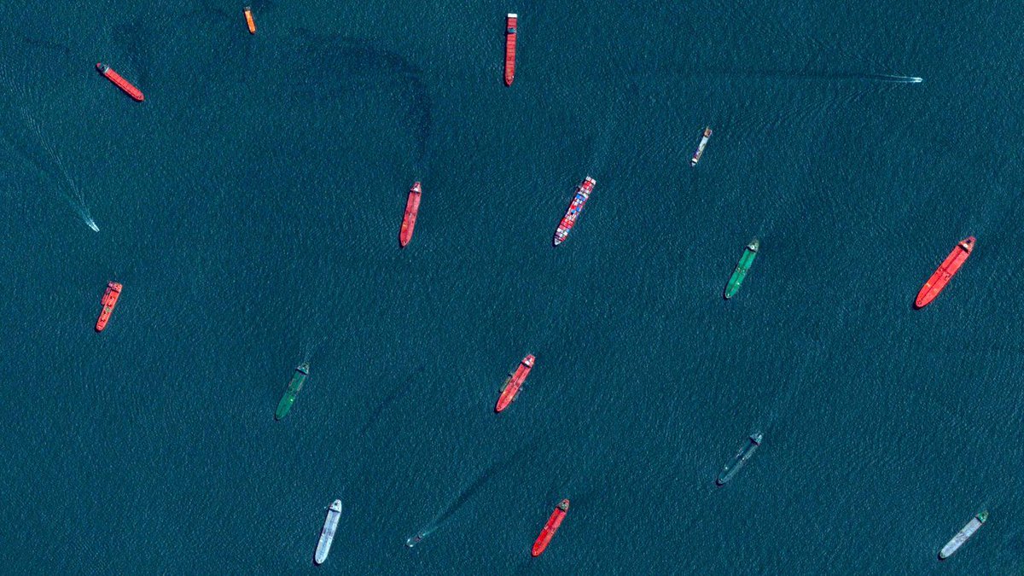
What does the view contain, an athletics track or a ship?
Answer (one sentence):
I can see a ship in this picture.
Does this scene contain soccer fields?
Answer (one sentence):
No, the scene contains no soccer field.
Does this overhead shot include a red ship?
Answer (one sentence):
Yes, a red ship appears in the view.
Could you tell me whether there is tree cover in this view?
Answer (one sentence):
No, tree cover can't be seen anywhere here.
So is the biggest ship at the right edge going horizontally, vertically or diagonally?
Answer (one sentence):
From this overhead view, the biggest ship at the right edge appears to run diagonally.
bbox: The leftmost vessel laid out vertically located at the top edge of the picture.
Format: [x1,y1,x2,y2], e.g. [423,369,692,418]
[244,6,256,34]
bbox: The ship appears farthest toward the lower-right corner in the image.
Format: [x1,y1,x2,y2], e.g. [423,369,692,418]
[941,510,988,558]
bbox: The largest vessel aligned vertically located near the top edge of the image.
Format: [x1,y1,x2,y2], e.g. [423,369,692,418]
[505,15,517,86]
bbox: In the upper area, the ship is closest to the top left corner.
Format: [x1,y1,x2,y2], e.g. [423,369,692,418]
[95,64,145,101]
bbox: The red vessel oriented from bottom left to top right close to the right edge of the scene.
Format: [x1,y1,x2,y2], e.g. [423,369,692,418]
[916,236,976,307]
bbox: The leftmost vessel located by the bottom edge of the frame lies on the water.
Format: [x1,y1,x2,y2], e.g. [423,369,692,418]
[315,499,341,564]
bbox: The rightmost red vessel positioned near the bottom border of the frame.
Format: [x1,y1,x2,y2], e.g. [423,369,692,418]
[532,498,569,556]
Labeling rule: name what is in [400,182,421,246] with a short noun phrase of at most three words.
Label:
ship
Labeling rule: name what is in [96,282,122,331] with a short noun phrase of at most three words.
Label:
ship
